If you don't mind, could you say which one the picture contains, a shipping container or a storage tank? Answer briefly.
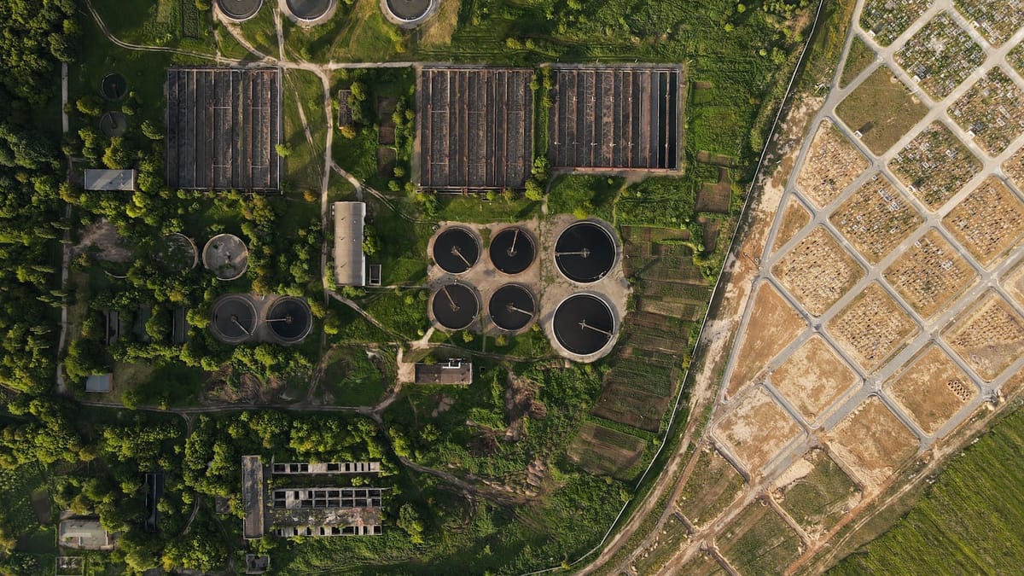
storage tank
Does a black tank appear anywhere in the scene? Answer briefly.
Yes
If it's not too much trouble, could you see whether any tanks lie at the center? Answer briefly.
Yes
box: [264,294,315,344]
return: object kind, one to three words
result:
storage tank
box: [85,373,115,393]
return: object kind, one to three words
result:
shed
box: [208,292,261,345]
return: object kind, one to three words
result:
storage tank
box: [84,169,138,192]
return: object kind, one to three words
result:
building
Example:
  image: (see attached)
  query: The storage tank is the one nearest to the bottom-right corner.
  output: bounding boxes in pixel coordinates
[549,290,618,358]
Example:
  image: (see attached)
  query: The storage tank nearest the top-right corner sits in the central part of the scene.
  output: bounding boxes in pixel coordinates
[551,218,619,287]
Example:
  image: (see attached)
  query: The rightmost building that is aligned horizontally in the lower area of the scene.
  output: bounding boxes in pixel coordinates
[415,358,472,384]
